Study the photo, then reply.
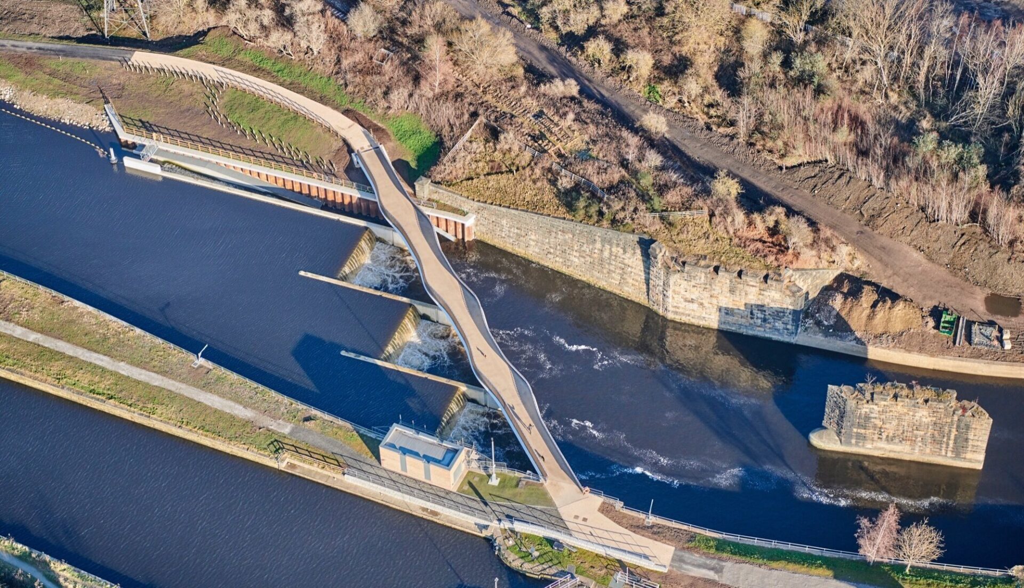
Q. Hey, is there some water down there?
Yes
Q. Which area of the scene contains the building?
bottom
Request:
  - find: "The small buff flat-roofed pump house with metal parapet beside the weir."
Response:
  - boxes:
[379,417,474,493]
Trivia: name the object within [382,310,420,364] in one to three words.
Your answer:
dam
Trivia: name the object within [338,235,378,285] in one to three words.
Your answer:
dam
